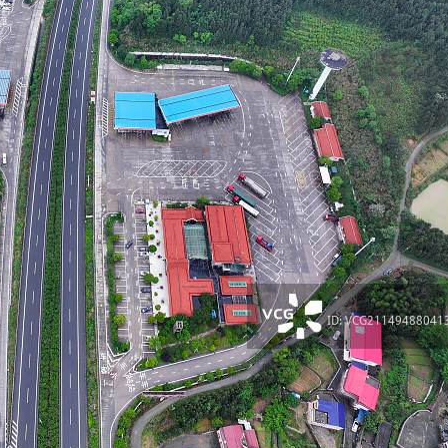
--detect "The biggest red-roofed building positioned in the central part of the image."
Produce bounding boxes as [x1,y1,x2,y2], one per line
[160,202,259,327]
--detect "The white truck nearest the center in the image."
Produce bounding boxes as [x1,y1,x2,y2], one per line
[231,195,261,218]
